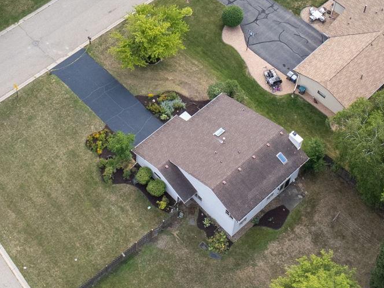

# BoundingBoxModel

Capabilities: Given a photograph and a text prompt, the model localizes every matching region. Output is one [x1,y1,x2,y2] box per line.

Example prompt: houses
[293,0,384,121]
[132,94,310,236]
